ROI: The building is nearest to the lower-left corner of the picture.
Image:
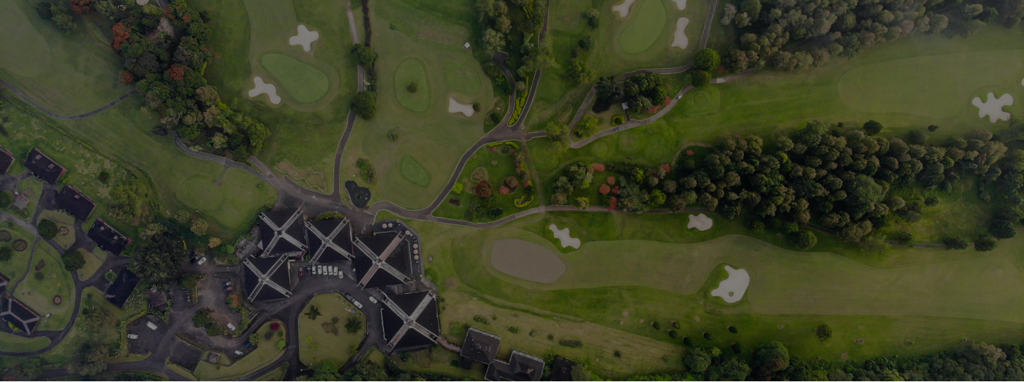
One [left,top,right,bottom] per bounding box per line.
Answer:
[0,298,43,335]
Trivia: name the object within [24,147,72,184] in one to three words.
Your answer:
house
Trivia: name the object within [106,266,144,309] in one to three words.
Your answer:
house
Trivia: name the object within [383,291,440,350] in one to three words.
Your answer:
building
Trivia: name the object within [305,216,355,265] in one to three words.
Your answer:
building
